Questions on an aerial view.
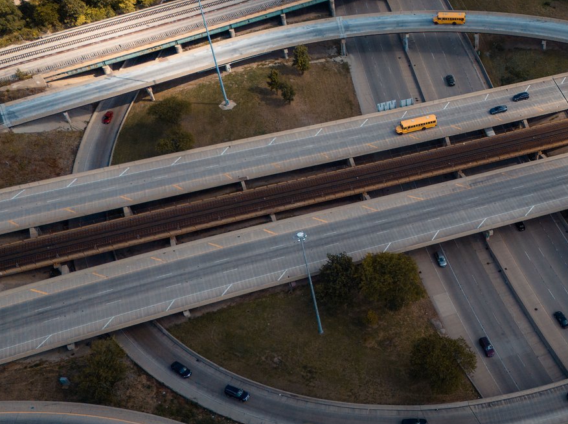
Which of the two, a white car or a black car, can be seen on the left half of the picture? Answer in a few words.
black car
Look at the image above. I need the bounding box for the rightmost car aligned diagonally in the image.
[554,311,568,329]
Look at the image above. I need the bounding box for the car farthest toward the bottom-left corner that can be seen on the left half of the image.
[170,361,191,377]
